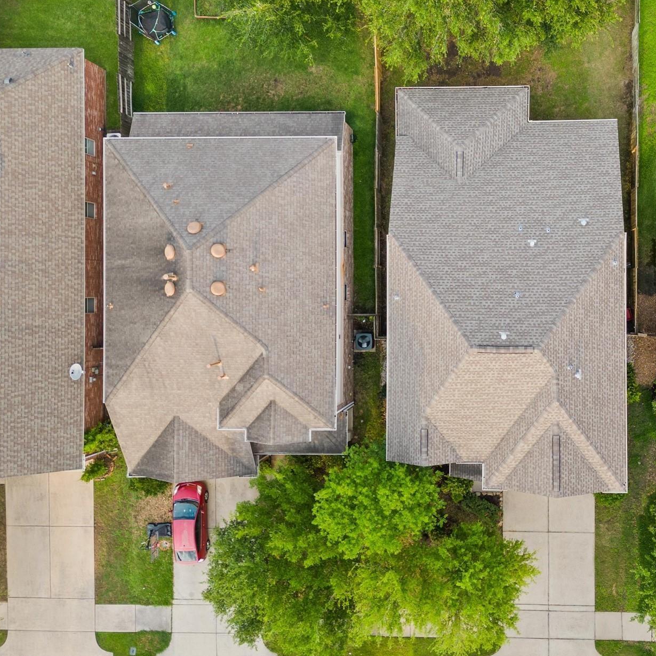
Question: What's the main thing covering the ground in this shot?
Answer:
buildings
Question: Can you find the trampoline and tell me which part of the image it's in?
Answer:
top left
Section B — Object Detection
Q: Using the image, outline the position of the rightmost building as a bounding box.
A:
[385,84,629,502]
